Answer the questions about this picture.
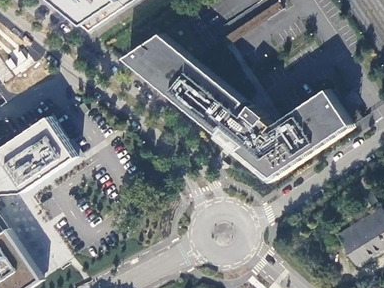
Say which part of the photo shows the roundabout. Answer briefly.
bottom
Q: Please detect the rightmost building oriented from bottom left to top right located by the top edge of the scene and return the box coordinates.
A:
[227,2,287,43]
